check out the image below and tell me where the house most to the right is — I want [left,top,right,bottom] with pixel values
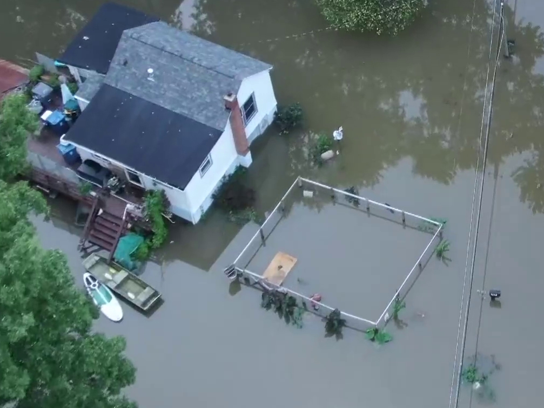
[62,3,278,223]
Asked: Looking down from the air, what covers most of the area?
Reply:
water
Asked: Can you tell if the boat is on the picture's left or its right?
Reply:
left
